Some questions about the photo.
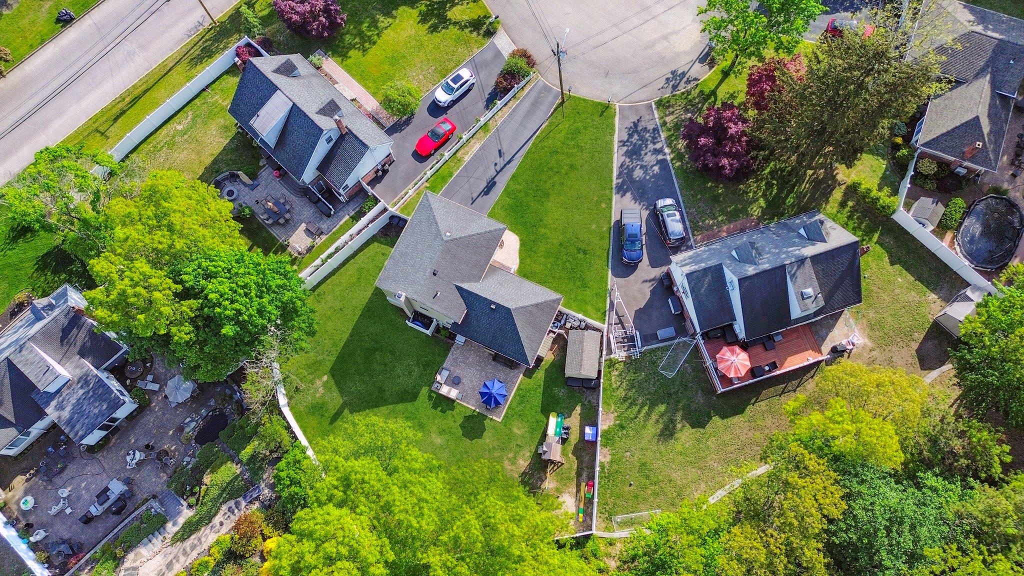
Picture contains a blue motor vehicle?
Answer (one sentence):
Yes, the picture does show a blue motor vehicle.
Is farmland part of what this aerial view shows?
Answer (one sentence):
No, the scene doesn't show any farmland.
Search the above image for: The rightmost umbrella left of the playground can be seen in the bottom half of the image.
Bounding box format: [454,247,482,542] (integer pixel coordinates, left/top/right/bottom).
[476,377,510,411]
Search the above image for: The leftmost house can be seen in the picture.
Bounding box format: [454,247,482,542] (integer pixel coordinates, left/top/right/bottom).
[0,284,141,455]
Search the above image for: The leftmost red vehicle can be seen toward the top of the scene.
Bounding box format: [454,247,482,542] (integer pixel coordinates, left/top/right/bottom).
[415,116,460,156]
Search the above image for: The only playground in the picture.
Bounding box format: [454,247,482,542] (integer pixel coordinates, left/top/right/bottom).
[575,387,600,533]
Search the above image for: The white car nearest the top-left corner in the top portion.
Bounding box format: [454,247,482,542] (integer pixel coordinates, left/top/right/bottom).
[432,64,478,109]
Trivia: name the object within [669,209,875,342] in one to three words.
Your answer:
house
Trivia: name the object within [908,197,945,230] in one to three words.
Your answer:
shed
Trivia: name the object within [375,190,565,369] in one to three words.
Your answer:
house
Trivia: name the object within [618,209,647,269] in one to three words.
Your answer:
truck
